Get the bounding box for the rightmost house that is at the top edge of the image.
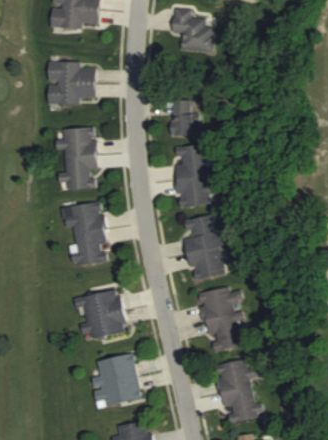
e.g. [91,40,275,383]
[170,9,216,54]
